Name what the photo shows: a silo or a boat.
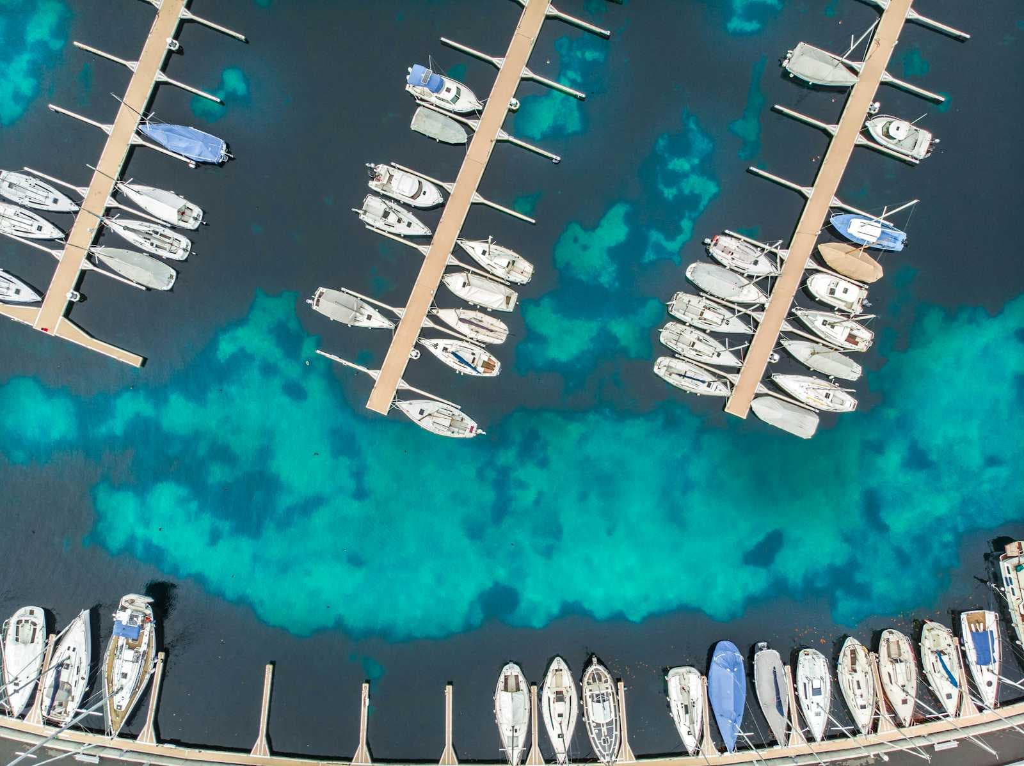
boat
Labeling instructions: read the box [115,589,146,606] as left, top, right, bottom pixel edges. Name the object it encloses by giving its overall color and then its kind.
white boat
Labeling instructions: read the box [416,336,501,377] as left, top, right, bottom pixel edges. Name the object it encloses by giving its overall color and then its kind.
white boat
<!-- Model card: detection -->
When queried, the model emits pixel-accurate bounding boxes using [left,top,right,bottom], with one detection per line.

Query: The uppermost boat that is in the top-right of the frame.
[783,22,881,86]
